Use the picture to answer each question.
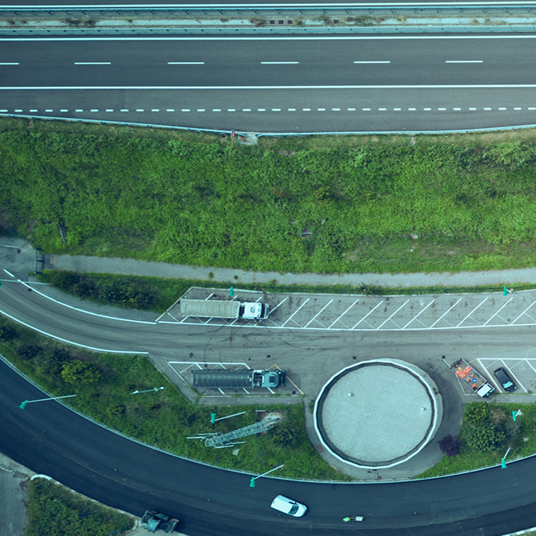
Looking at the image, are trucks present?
Yes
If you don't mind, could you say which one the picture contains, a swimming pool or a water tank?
water tank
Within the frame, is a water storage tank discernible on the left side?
No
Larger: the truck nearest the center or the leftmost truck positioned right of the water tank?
the truck nearest the center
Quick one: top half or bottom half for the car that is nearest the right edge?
bottom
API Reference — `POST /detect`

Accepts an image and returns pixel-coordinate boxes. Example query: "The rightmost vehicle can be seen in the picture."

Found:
[494,368,515,395]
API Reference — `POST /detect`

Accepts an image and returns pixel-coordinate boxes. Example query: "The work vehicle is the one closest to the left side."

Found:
[138,510,181,536]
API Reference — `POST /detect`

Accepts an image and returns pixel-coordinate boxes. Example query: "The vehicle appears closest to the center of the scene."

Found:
[174,300,273,325]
